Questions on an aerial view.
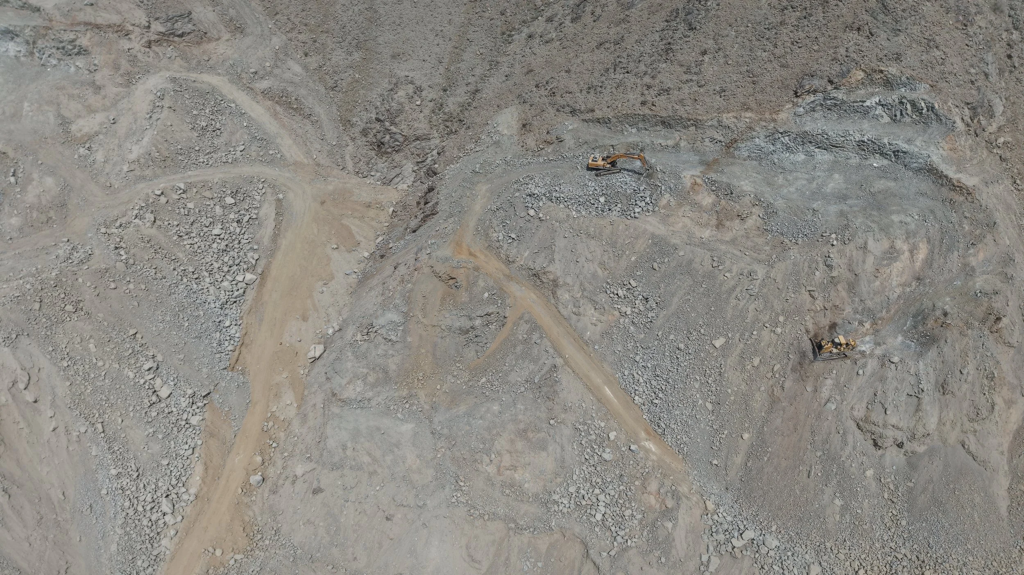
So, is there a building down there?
No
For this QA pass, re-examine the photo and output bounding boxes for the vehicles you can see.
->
[808,333,858,364]
[588,152,652,179]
